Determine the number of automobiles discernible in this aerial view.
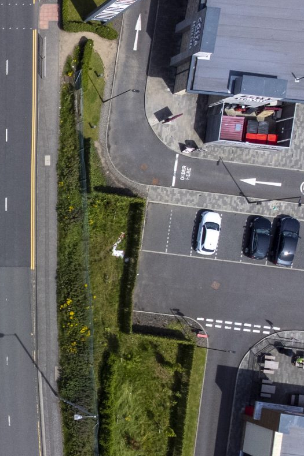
3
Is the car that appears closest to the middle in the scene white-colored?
Yes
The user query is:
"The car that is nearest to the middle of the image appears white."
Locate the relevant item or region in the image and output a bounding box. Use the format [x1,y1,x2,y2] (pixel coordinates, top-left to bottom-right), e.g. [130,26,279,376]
[193,210,221,256]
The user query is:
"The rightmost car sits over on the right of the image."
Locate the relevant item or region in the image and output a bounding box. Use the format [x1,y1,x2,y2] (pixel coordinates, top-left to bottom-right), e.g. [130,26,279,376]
[269,217,300,266]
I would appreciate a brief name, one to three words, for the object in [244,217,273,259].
car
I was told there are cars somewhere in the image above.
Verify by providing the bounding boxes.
[269,217,300,266]
[193,210,221,256]
[244,217,273,259]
